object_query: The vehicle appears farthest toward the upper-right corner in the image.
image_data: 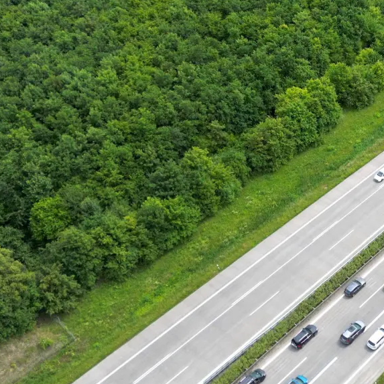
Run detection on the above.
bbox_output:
[370,167,384,183]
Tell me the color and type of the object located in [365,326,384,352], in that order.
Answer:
white car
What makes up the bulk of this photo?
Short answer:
trees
